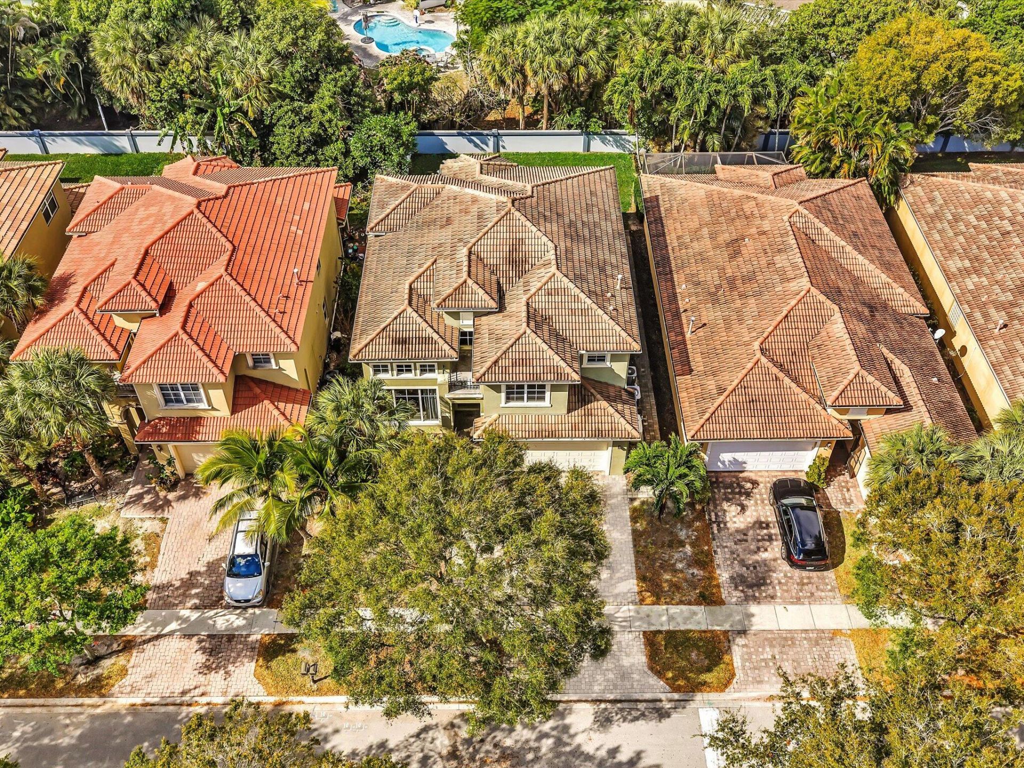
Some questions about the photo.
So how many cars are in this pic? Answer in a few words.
2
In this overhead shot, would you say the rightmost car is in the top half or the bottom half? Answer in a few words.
bottom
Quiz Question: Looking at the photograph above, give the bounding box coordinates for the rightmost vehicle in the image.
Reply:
[768,474,834,577]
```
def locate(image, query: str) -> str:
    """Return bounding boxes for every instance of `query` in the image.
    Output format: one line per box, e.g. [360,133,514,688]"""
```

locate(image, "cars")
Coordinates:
[220,512,275,609]
[768,474,834,577]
